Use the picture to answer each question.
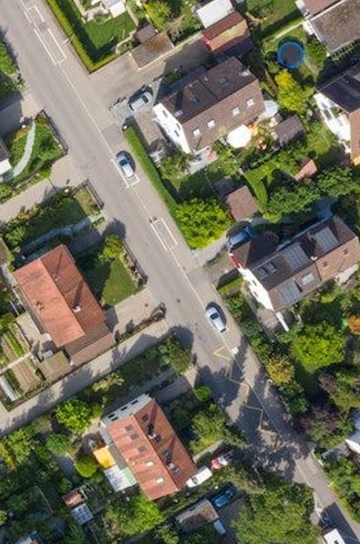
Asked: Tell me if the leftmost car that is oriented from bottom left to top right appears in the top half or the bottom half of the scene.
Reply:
top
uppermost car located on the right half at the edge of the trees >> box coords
[225,226,253,249]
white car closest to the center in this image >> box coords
[203,303,226,333]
